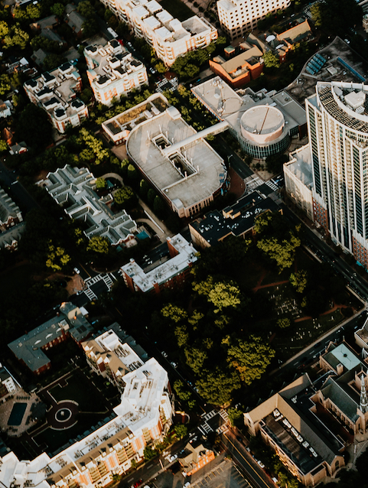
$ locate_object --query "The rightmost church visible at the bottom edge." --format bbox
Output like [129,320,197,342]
[239,341,368,482]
